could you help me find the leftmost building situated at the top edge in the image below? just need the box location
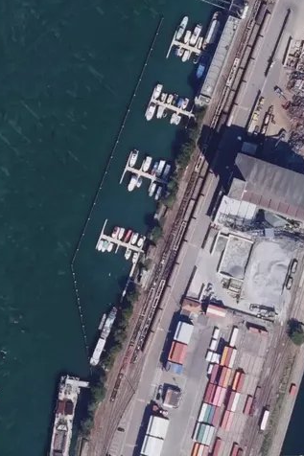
[201,16,240,99]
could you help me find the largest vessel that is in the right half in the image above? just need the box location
[202,11,221,49]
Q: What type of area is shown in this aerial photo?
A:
port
